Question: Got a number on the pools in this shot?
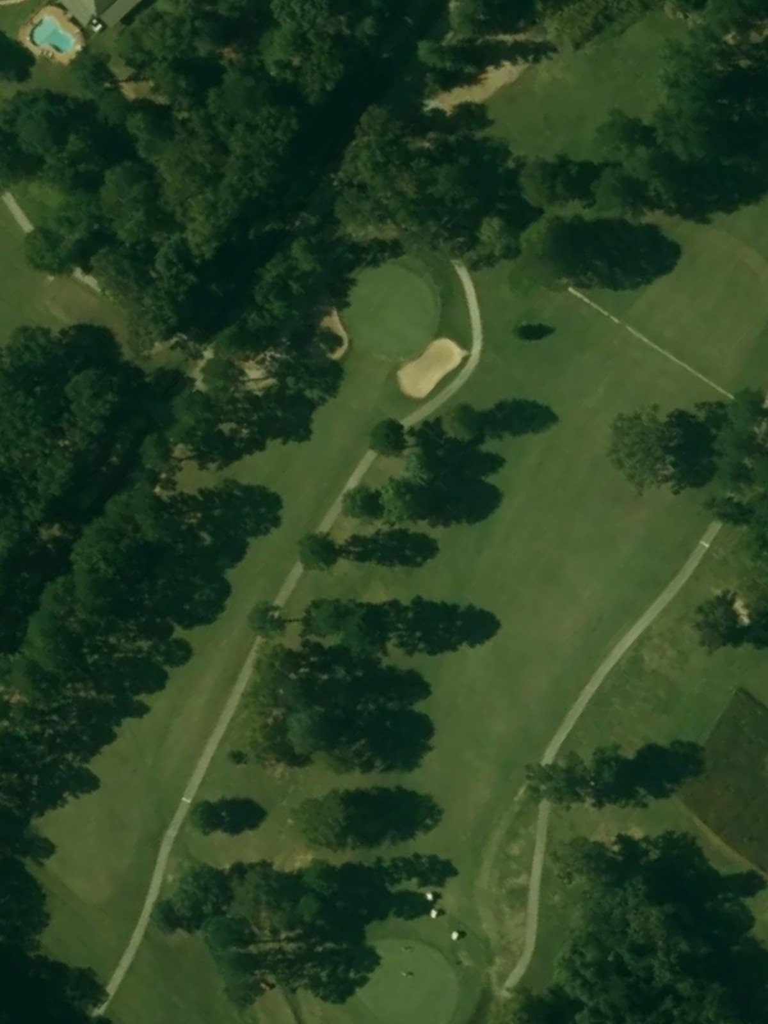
1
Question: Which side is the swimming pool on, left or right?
left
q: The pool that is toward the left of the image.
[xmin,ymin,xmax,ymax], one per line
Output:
[19,5,85,65]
